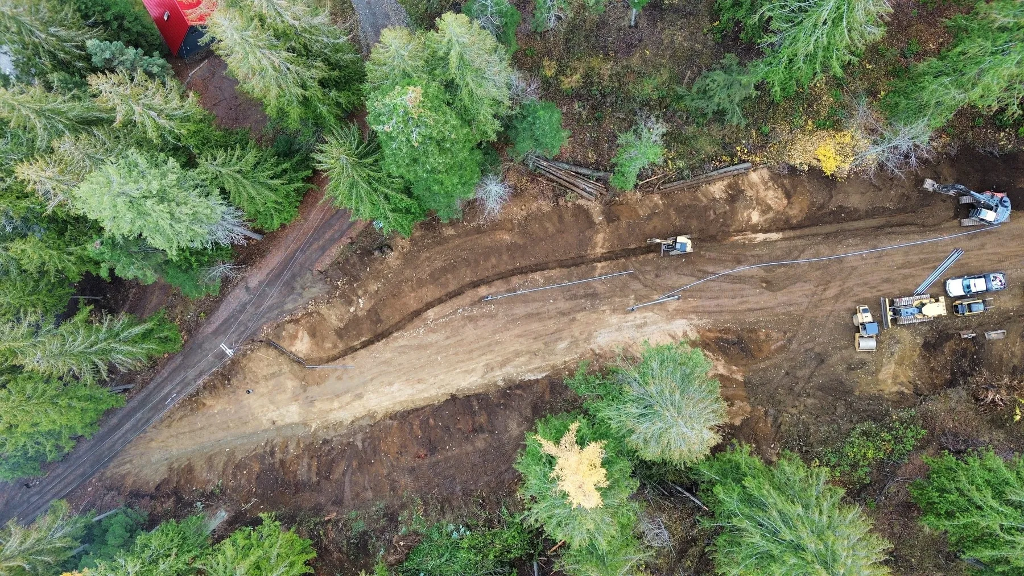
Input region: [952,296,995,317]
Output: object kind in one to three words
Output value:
work vehicle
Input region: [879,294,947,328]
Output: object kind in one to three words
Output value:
work vehicle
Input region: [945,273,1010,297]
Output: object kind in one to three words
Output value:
truck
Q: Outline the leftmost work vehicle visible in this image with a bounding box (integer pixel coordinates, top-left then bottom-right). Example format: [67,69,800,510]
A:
[644,234,694,258]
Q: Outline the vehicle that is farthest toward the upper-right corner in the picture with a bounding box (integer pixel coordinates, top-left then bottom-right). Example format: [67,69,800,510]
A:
[919,175,1015,227]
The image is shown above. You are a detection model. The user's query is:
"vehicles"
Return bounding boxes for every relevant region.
[879,294,947,328]
[844,303,879,353]
[644,234,694,258]
[952,296,995,317]
[945,273,1010,297]
[919,175,1015,227]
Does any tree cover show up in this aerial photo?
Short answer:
Yes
